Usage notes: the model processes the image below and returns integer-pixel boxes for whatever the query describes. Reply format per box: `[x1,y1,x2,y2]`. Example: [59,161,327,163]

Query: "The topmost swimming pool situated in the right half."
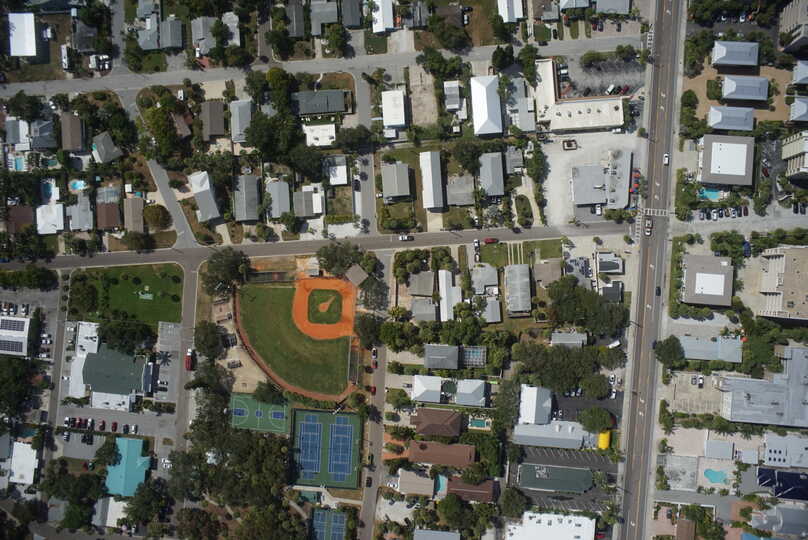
[699,187,721,201]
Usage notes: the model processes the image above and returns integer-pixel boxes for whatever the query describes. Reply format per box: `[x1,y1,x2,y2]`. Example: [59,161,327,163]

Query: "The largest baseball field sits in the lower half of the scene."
[232,278,358,400]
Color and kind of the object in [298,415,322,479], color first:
blue tennis court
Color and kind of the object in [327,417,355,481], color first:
blue tennis court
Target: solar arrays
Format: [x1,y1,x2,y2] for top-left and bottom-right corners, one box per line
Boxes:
[0,340,23,352]
[0,319,26,332]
